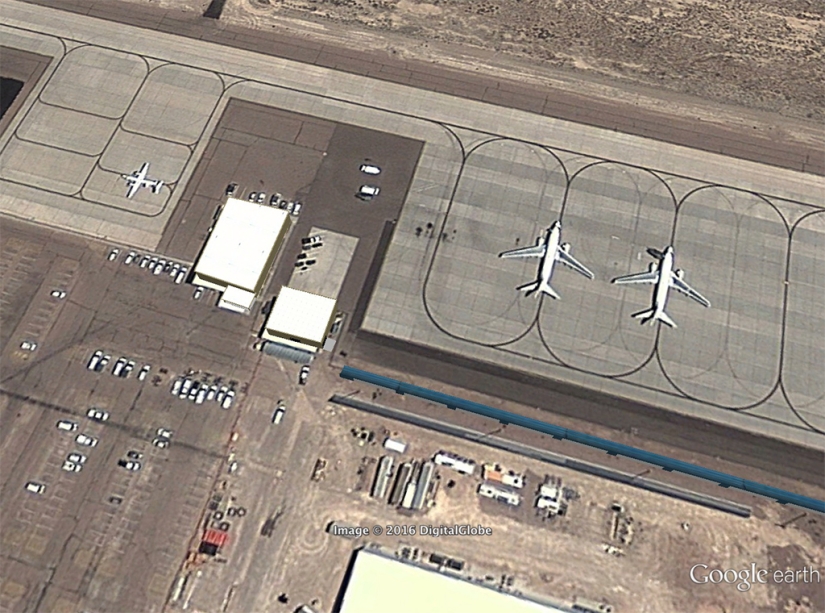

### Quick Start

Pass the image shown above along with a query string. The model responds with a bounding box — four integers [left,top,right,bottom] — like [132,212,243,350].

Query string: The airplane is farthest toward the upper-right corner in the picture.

[616,246,714,329]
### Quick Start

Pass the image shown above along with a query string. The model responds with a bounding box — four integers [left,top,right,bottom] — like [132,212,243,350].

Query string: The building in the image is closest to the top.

[193,197,293,302]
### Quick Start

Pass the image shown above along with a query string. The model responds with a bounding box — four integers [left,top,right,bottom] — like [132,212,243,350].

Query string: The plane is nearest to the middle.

[500,219,595,300]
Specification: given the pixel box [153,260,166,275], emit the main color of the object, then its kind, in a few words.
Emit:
white vehicle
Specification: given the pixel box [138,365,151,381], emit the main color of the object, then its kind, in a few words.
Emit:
white vehicle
